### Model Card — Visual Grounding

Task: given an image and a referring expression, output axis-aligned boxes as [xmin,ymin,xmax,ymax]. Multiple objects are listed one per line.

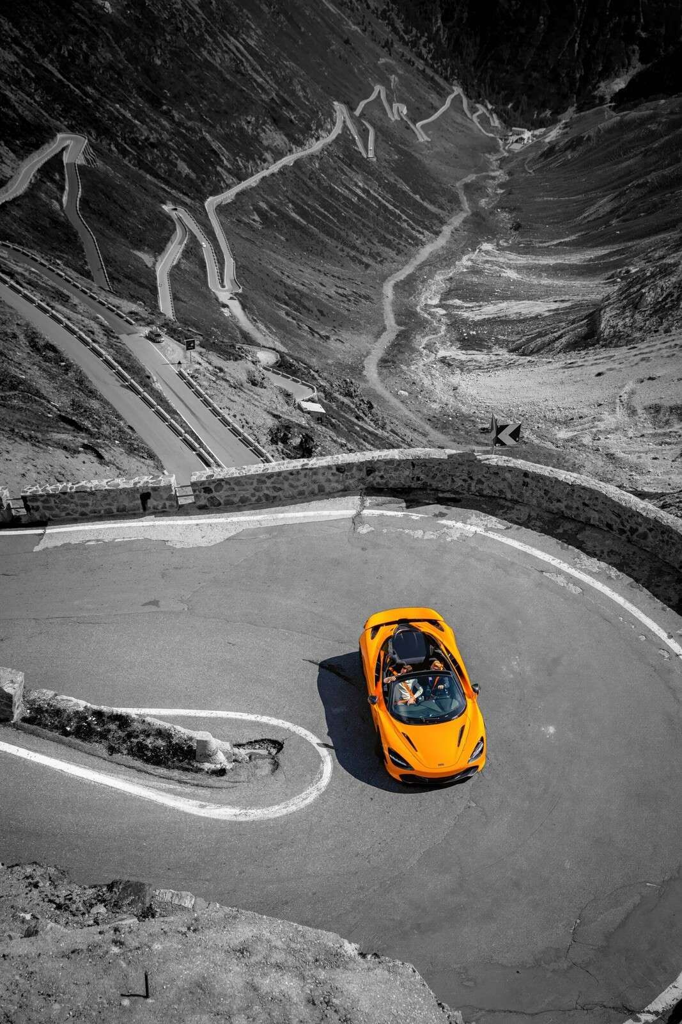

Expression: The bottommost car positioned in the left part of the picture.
[144,329,164,344]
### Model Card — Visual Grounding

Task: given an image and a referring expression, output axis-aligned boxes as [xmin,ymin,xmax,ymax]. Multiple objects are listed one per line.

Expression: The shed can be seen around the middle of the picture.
[300,396,329,420]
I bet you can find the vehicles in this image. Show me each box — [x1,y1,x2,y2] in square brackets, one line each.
[361,607,485,785]
[144,329,164,344]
